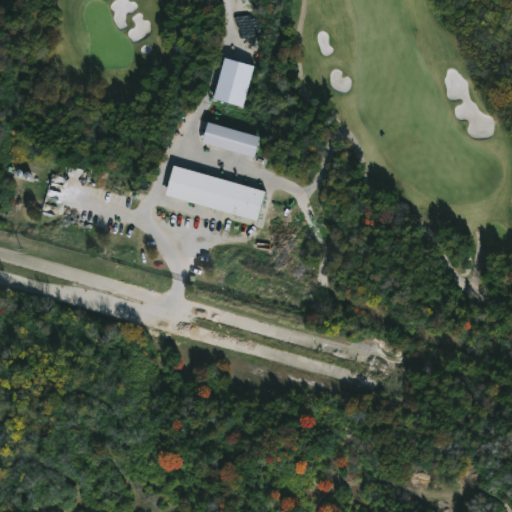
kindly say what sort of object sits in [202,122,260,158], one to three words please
building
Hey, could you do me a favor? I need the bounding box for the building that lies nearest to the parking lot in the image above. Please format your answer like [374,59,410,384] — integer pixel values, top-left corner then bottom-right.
[166,165,266,221]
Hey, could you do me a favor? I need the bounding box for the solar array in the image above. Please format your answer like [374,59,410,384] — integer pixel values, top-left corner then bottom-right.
[235,14,256,39]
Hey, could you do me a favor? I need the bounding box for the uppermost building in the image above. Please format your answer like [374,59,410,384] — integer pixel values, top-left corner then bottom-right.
[213,57,255,108]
